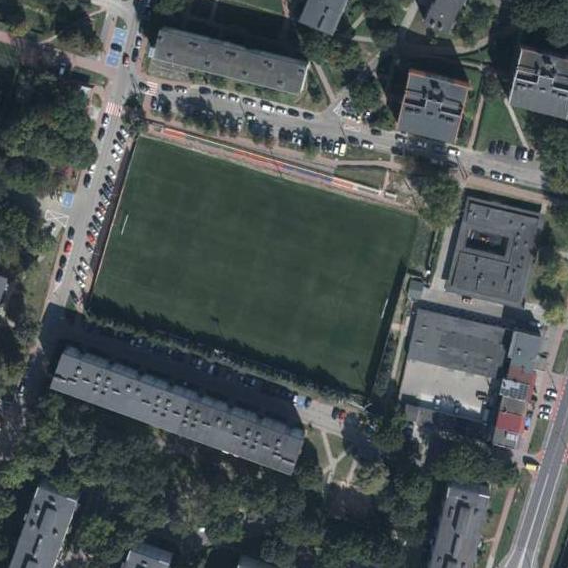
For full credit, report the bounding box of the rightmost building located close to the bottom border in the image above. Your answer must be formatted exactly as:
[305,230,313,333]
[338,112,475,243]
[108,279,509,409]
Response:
[430,485,493,568]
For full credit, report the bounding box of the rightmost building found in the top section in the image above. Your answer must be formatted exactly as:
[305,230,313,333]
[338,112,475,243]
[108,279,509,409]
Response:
[509,44,568,119]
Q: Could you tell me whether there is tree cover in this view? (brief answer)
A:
Yes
